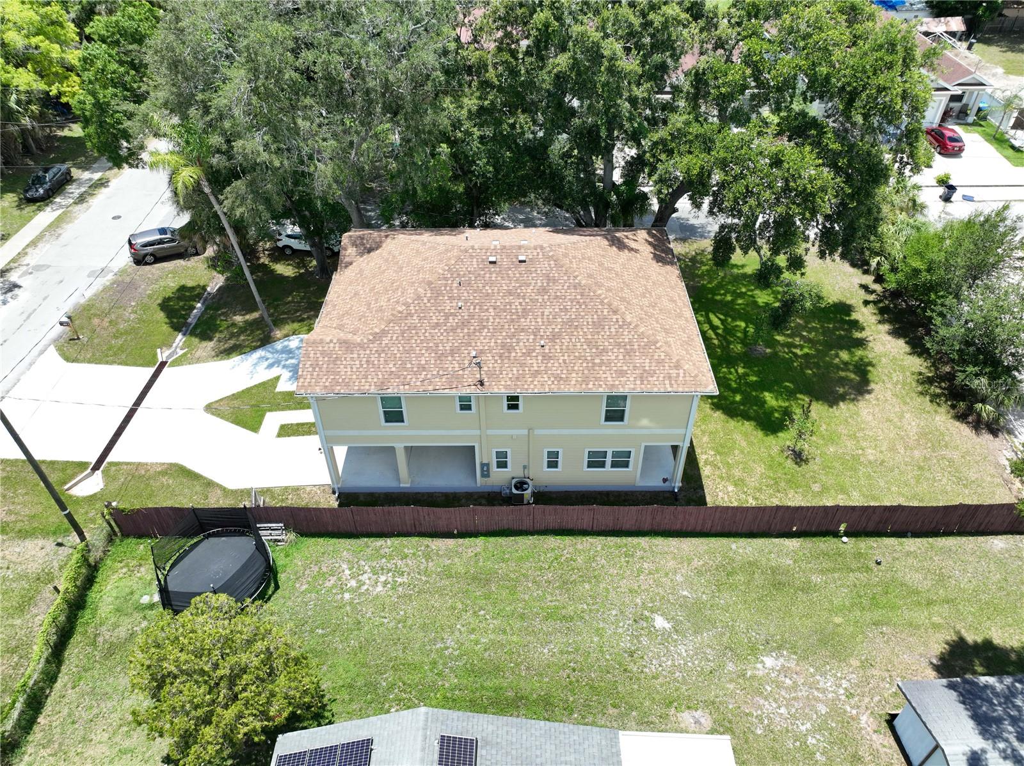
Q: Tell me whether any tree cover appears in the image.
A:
Yes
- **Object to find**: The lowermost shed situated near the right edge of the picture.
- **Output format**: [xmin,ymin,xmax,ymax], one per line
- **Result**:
[887,678,1024,766]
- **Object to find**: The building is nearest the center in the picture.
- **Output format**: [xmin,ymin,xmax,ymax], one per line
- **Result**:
[294,227,722,507]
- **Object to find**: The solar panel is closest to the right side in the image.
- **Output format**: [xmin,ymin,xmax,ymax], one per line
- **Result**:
[439,732,478,766]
